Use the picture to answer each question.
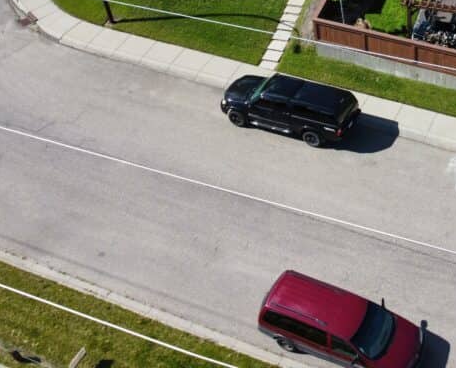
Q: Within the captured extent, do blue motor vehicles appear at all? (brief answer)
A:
No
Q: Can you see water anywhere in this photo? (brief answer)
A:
No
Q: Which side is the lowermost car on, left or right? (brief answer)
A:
right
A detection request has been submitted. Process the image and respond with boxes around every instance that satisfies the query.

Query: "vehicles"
[252,267,436,368]
[217,69,366,147]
